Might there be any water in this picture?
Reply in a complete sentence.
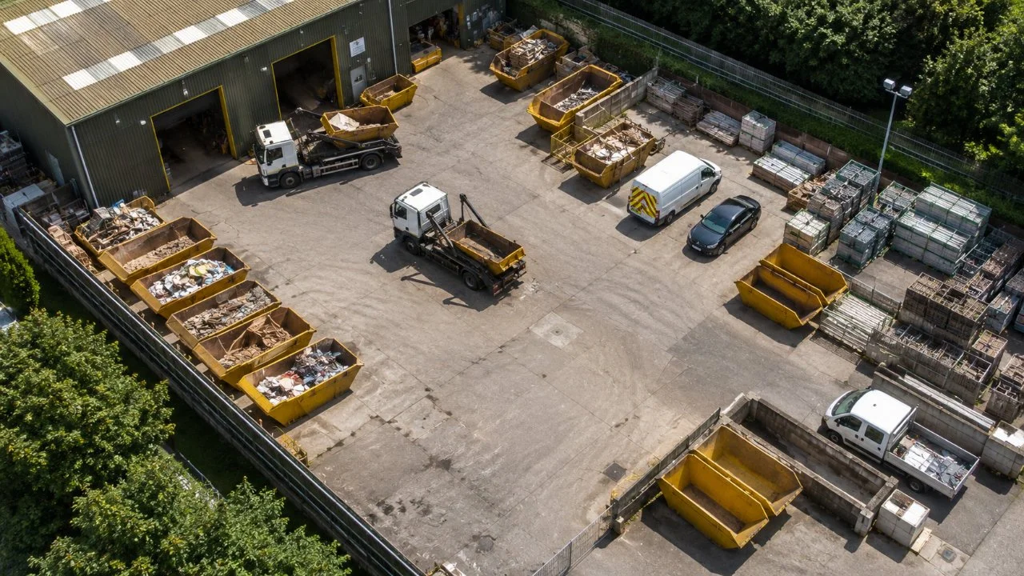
No, water can't be seen anywhere here.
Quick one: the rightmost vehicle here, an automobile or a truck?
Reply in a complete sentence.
The rightmost vehicle is a truck.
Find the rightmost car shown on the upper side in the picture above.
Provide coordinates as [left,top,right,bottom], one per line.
[683,194,763,257]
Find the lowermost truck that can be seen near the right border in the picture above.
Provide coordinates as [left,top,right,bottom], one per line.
[816,388,984,504]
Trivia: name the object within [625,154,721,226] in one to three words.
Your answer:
van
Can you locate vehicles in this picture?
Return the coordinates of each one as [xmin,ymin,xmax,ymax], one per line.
[683,194,763,257]
[385,180,530,300]
[625,154,721,226]
[245,109,406,187]
[816,388,984,504]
